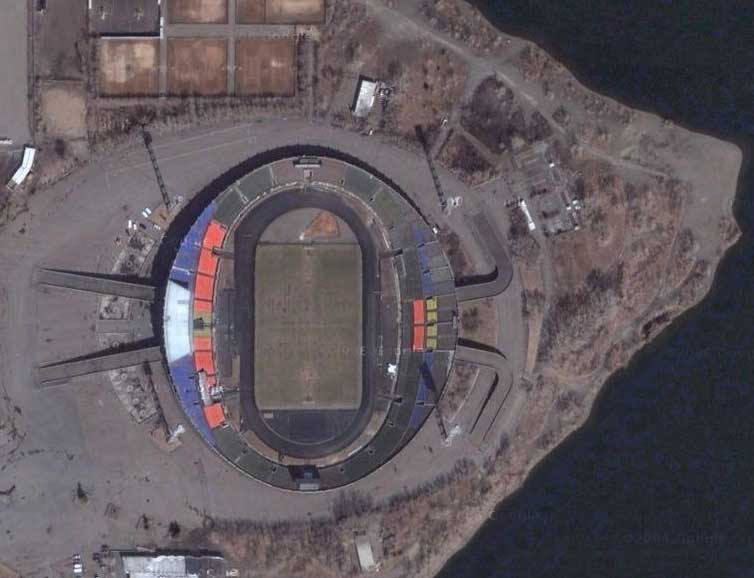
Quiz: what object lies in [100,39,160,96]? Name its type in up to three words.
tennis court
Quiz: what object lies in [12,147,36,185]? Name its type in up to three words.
building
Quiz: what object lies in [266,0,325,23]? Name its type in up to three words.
tennis court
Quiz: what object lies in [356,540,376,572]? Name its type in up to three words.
building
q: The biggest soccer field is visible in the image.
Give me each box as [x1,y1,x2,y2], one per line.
[254,241,364,409]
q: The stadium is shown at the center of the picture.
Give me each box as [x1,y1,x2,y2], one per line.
[161,156,460,493]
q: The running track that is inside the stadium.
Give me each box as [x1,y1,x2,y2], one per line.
[236,189,380,459]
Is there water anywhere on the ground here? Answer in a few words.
Yes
